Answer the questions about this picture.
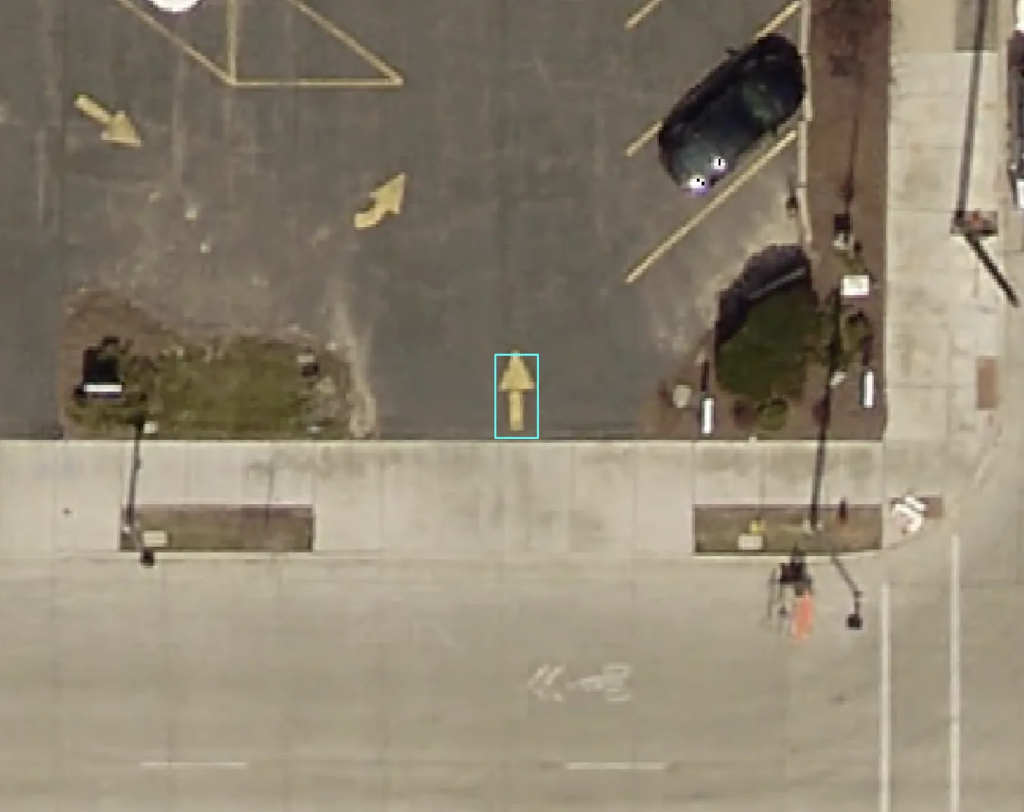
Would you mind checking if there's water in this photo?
No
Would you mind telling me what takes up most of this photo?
paved ground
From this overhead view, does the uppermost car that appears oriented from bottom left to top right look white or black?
black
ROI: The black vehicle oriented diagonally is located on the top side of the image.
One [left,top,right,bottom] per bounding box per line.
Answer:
[661,51,809,196]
